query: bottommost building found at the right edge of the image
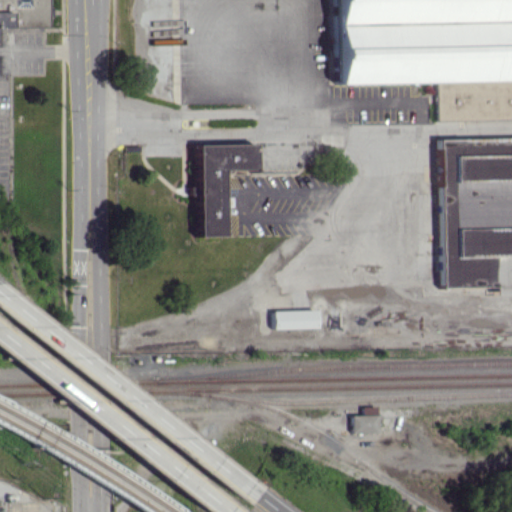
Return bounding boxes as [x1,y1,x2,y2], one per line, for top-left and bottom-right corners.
[438,140,512,288]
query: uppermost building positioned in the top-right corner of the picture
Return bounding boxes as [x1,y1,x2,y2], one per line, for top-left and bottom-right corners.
[333,0,512,87]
